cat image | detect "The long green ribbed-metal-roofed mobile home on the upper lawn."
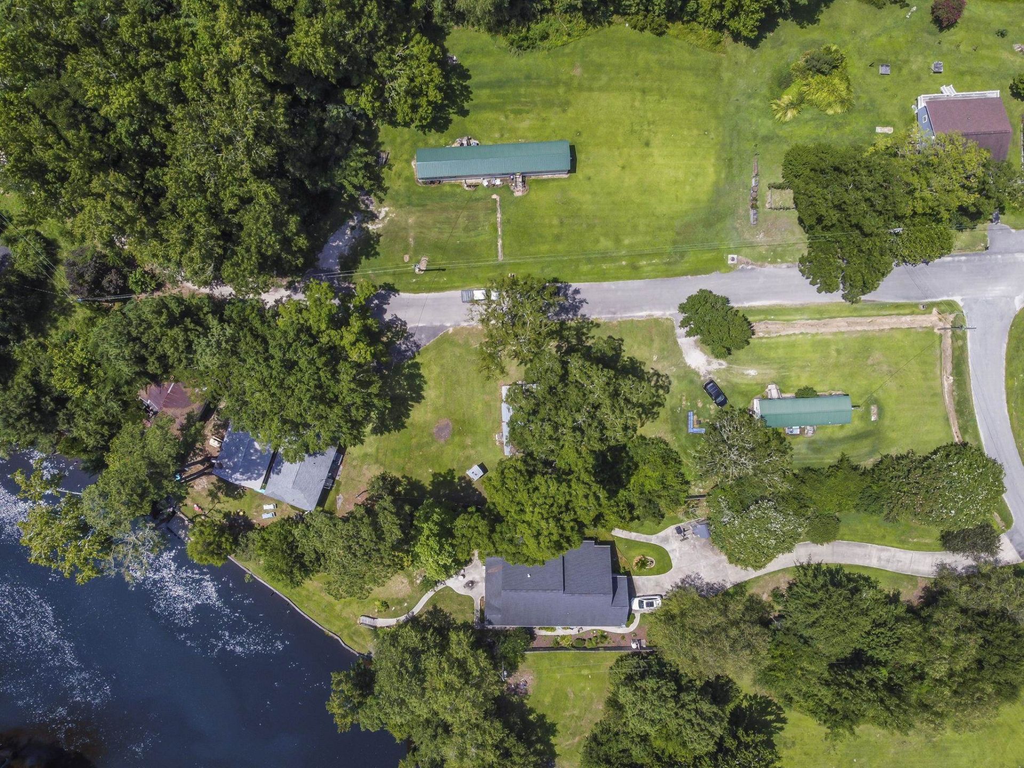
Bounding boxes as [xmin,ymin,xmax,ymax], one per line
[416,140,570,182]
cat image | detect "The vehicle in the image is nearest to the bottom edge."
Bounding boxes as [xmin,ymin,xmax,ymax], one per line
[632,597,663,612]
